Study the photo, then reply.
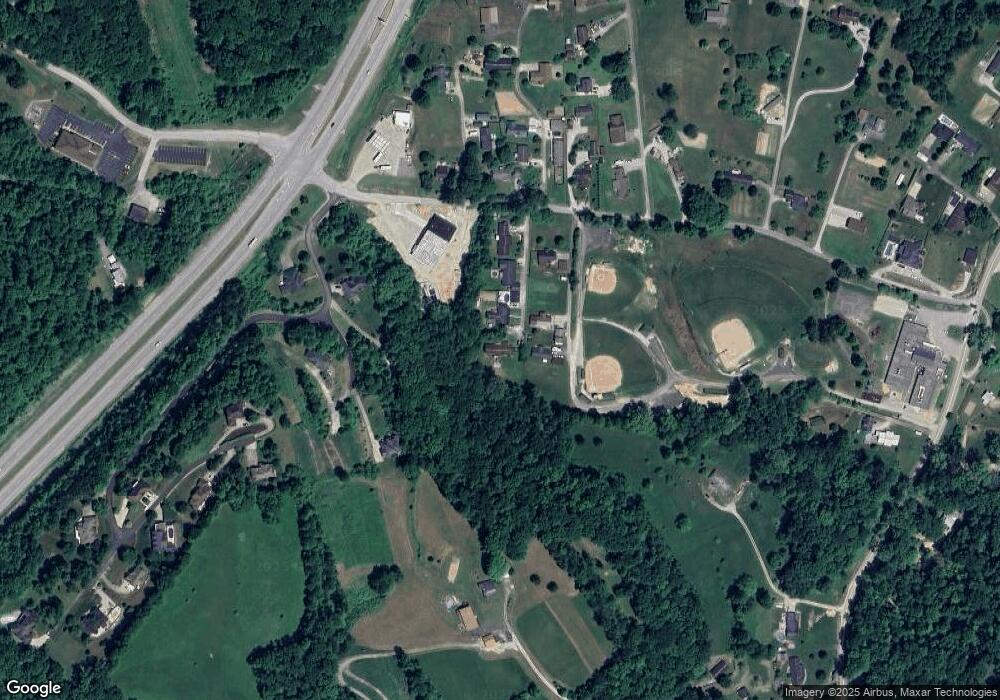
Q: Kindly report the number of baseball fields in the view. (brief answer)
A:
3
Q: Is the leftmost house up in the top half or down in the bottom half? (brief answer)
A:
bottom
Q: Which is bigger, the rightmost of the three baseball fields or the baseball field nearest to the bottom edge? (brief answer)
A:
the rightmost of the three baseball fields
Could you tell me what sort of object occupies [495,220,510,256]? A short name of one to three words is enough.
house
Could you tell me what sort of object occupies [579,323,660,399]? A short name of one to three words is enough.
baseball field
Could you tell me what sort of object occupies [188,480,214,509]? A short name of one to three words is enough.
house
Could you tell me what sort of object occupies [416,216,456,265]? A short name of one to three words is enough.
building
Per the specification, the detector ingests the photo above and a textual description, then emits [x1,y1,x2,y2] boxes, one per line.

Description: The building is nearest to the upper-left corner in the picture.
[47,125,105,166]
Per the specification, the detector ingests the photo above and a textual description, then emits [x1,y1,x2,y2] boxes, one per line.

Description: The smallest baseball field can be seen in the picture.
[583,258,644,317]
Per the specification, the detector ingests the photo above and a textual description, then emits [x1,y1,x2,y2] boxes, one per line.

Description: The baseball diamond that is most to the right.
[673,250,809,371]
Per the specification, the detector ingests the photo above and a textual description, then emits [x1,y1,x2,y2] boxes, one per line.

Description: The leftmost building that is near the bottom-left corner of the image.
[9,610,37,638]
